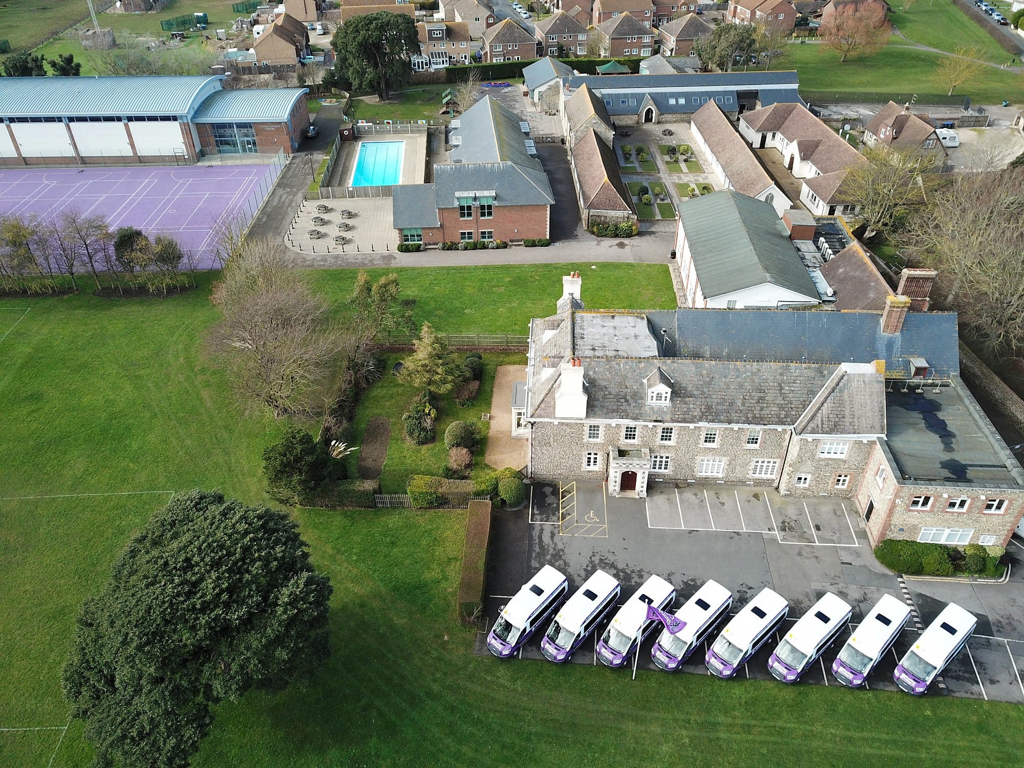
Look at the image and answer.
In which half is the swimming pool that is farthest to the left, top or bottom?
top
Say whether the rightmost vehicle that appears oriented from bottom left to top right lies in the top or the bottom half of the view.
bottom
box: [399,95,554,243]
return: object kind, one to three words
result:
building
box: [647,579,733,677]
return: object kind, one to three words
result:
vehicle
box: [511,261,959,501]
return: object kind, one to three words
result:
house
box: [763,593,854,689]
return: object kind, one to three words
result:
vehicle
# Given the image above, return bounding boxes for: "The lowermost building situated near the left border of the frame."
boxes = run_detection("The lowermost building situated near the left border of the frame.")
[0,74,305,167]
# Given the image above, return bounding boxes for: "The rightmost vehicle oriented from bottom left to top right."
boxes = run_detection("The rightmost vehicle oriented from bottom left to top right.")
[887,603,978,700]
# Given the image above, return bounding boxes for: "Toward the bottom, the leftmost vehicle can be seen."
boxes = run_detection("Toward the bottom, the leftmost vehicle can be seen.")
[486,564,570,663]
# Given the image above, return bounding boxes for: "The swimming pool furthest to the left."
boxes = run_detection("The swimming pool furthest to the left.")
[350,140,405,186]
